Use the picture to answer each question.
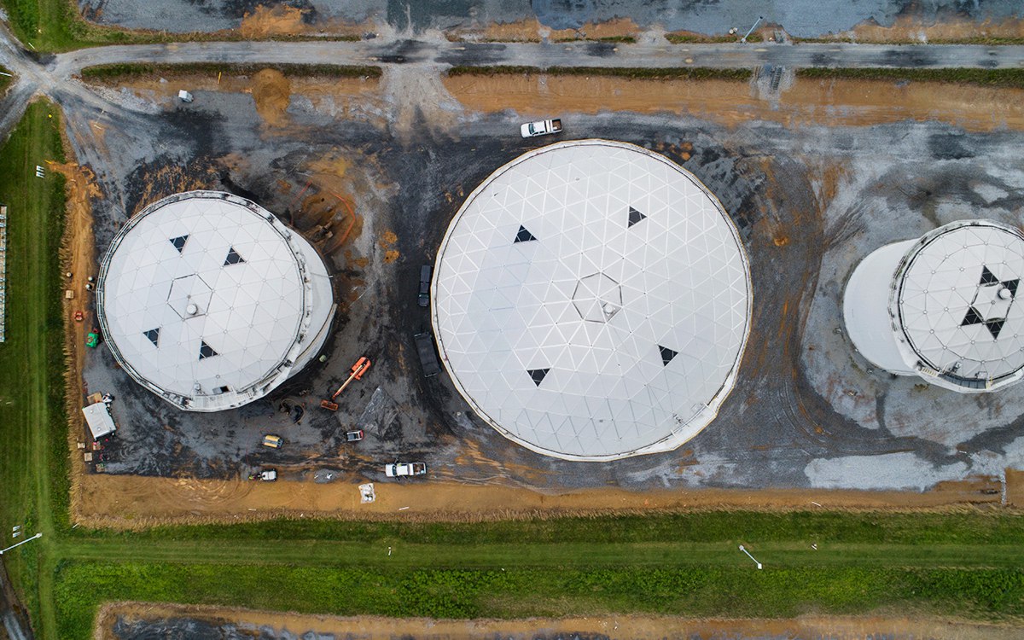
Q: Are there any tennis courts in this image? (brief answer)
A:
No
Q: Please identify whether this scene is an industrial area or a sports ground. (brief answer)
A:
industrial area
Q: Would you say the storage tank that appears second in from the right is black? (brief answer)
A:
No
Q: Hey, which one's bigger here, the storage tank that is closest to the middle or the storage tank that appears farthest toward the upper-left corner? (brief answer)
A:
the storage tank that is closest to the middle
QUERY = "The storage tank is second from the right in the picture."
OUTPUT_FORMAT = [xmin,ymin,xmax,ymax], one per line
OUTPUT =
[430,138,755,462]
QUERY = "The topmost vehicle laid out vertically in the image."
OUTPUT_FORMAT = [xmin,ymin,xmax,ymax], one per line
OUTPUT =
[415,264,433,308]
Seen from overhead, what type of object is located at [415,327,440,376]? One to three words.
trailer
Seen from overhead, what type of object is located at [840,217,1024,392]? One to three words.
storage tank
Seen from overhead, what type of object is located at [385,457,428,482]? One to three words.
truck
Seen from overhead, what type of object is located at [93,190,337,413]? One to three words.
storage tank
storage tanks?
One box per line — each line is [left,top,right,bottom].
[840,217,1024,392]
[93,190,337,413]
[430,138,755,462]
